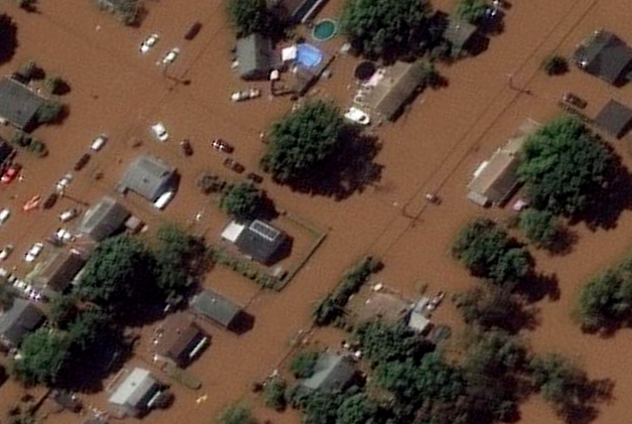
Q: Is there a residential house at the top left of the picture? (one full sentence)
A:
Yes, you'll find a residential house at the top left of the picture.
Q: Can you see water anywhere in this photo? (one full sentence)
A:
Yes, there's water in this view.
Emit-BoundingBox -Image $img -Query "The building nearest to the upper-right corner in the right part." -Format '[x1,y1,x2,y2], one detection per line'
[577,30,632,90]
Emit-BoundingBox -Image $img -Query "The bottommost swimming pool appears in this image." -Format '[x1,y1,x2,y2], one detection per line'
[296,44,322,68]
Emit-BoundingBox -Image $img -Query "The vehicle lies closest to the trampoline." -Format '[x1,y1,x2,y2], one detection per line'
[346,107,367,122]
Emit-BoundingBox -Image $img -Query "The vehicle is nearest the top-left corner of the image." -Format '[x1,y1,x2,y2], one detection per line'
[140,34,157,52]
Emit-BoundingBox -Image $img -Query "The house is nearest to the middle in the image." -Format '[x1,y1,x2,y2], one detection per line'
[221,221,286,266]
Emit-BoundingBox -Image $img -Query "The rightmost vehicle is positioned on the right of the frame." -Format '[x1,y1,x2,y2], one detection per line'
[564,94,583,108]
